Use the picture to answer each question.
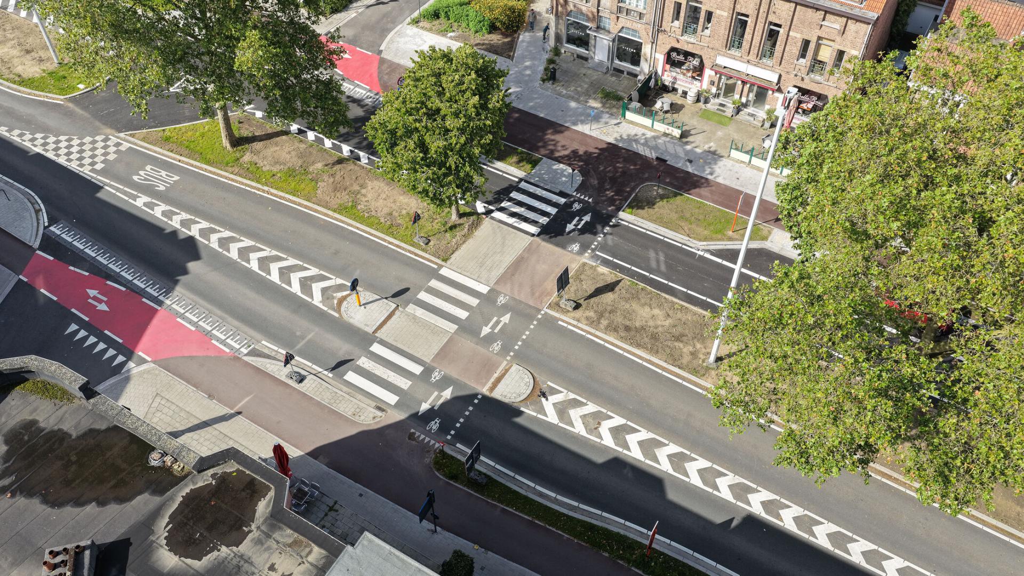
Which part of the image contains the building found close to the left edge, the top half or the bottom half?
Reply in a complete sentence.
You can find the building found close to the left edge in the bottom half.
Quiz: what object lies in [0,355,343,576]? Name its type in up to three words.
building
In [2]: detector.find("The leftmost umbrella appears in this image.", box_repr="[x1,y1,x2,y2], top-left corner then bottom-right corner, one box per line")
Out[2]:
[276,438,299,482]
